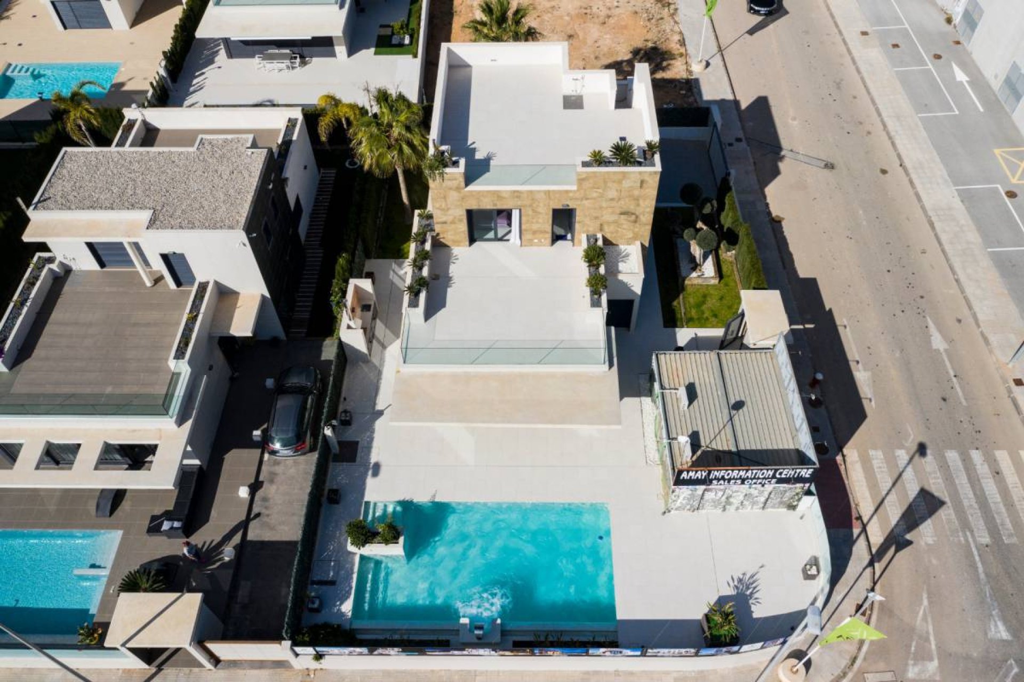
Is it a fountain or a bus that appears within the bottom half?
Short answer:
fountain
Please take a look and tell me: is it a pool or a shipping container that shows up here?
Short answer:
pool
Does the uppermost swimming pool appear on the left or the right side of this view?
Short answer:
left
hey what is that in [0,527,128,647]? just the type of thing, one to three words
swimming pool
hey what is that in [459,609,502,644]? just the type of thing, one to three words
fountain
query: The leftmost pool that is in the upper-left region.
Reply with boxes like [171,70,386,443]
[0,61,122,106]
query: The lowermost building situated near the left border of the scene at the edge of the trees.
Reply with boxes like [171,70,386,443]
[0,108,321,493]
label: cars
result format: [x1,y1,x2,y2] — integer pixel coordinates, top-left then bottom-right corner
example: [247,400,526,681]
[748,0,781,15]
[267,357,333,459]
